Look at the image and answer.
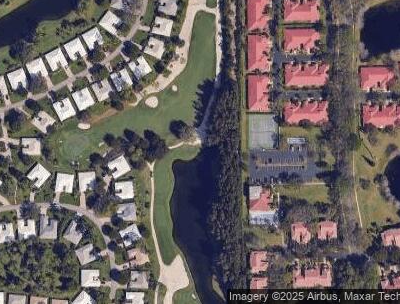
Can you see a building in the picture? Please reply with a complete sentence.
Yes, the picture does show a building.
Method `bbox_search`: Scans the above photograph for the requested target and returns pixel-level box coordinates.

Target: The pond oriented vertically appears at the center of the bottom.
[170,145,224,304]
